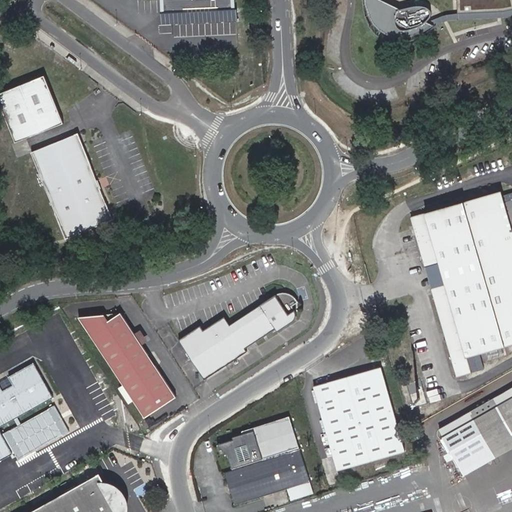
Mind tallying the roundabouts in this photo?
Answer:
1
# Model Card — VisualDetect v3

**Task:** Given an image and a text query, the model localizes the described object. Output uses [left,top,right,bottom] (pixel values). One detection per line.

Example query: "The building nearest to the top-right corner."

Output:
[362,0,432,37]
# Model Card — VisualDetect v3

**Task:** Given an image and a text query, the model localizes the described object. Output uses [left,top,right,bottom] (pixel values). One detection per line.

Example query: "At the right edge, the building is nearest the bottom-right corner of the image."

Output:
[438,388,512,477]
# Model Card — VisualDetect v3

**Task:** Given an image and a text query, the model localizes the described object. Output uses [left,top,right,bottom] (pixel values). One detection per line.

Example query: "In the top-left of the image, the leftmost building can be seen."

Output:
[0,76,62,143]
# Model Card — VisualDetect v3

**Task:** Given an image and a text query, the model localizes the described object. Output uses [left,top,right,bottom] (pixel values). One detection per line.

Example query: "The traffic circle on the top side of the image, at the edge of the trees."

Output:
[205,76,354,257]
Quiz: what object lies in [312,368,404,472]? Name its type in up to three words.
building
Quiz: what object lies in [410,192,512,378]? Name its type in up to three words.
building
